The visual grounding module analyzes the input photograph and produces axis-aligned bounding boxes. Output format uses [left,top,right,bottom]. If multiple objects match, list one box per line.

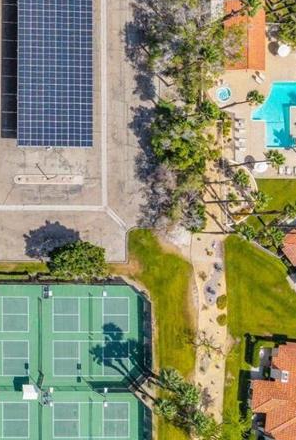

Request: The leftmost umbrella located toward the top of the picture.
[251,161,266,173]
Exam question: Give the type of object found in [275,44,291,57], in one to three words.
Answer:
umbrella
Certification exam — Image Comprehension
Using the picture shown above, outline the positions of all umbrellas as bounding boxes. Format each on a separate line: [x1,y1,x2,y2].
[251,161,266,173]
[275,44,291,57]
